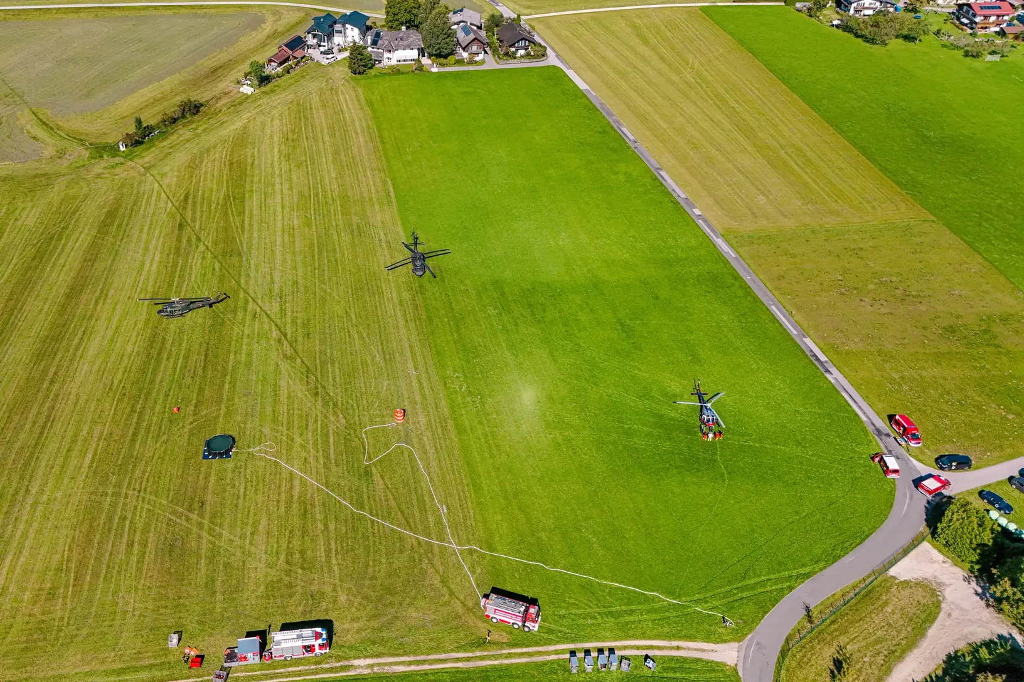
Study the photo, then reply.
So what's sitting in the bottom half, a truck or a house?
truck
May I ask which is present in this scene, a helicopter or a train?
helicopter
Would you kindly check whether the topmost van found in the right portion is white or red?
red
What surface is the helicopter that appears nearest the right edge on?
grass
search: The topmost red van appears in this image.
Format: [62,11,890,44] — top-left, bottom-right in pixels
[891,414,926,449]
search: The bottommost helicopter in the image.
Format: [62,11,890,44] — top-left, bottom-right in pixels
[674,375,726,428]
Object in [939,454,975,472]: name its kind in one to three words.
car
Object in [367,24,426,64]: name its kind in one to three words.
house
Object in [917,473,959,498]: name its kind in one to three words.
truck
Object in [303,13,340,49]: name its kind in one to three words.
house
